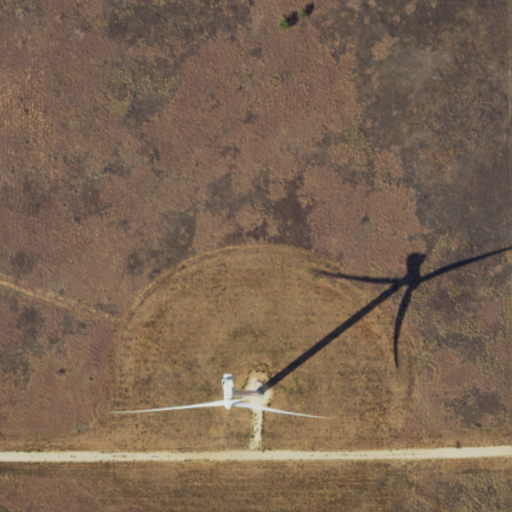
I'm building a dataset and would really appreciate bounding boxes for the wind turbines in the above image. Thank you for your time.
[106,374,324,420]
